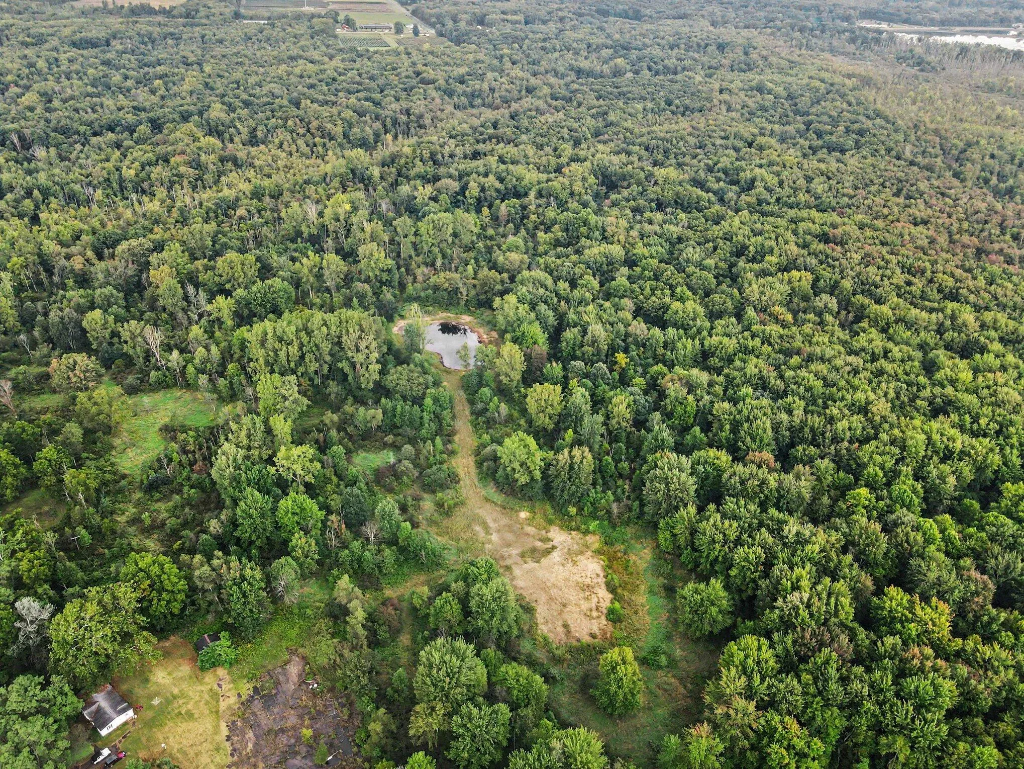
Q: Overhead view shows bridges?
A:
No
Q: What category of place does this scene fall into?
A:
forest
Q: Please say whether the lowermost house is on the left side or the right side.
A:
left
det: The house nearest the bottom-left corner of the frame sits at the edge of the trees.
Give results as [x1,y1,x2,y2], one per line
[83,684,133,735]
